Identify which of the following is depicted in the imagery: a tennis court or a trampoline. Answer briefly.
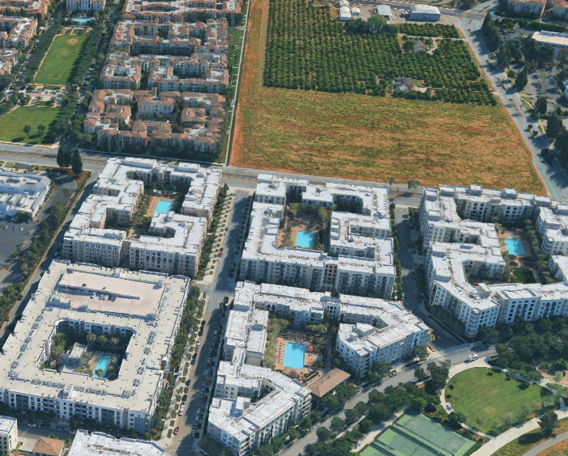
tennis court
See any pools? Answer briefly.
Yes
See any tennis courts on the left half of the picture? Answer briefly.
No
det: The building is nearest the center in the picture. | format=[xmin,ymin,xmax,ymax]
[238,173,396,297]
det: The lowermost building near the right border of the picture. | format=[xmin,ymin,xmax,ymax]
[417,183,568,338]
